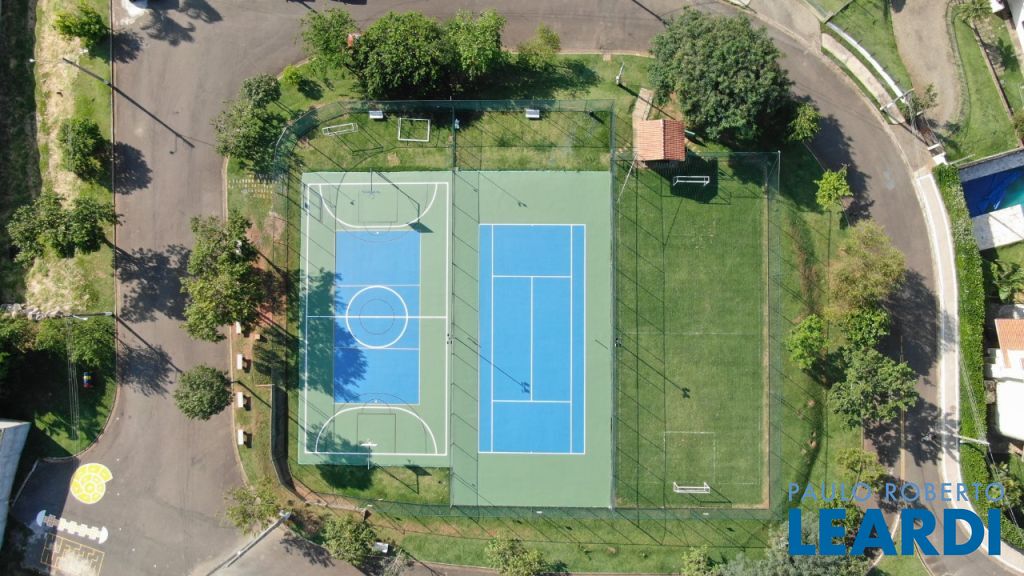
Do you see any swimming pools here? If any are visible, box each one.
[964,150,1024,251]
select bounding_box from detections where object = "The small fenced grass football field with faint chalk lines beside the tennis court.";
[613,160,766,506]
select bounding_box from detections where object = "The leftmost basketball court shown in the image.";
[298,171,453,466]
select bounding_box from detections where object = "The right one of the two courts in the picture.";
[453,171,611,507]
